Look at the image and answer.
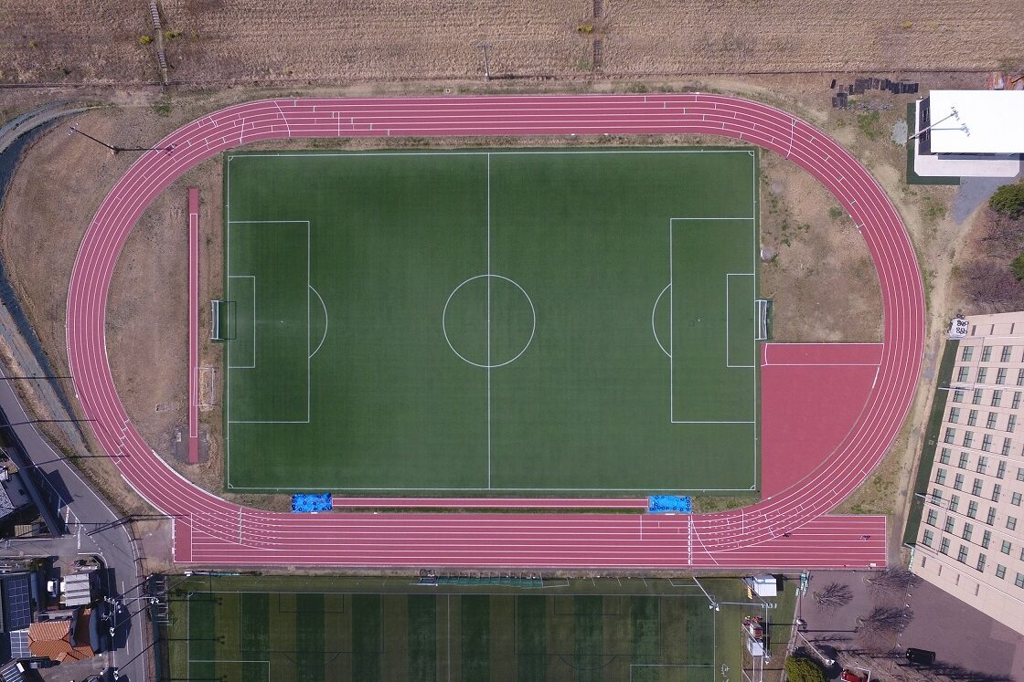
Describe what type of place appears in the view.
sports ground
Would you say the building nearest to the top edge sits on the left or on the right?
right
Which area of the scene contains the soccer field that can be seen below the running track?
bottom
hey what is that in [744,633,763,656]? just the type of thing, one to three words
shed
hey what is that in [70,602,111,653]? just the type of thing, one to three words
house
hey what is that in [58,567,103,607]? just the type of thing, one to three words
building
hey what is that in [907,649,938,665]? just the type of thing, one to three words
car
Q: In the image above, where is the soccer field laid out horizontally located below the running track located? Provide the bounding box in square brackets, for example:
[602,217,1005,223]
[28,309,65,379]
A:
[183,587,720,682]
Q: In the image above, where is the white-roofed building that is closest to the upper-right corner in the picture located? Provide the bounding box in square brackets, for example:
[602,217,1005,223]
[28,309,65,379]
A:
[914,89,1024,177]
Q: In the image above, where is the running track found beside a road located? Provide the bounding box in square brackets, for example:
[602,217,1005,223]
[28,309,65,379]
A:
[66,92,925,569]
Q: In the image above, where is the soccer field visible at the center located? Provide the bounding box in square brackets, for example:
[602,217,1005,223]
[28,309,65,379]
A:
[211,145,774,495]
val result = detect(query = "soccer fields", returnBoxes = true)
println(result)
[183,587,720,682]
[211,145,774,495]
